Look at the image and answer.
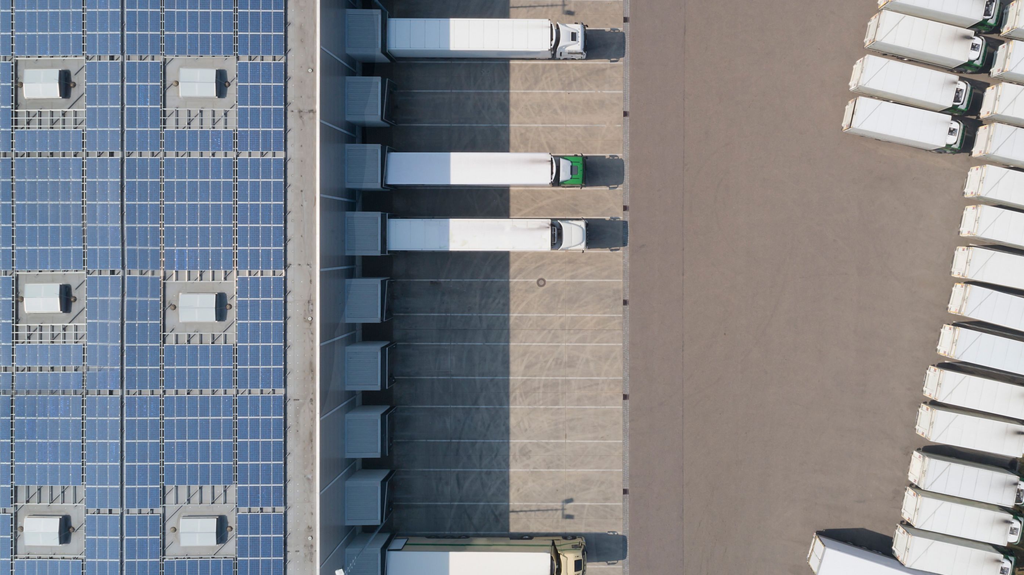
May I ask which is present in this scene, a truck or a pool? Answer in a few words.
truck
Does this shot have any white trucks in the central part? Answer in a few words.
Yes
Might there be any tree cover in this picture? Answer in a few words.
No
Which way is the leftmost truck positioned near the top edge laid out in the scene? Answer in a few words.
horizontally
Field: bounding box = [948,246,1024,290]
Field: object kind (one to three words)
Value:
truck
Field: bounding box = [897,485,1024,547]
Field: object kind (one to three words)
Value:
truck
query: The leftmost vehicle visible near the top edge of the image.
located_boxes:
[388,18,590,61]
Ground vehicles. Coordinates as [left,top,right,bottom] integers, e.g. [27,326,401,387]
[945,282,1024,328]
[960,164,1024,209]
[878,0,1003,34]
[889,523,1016,575]
[838,96,964,157]
[920,364,1024,417]
[904,449,1024,510]
[388,150,590,189]
[388,534,590,575]
[955,204,1024,248]
[388,215,590,254]
[897,485,1024,547]
[388,18,590,61]
[975,82,1024,128]
[984,40,1024,86]
[967,123,1024,169]
[862,10,989,74]
[912,402,1024,459]
[934,323,1024,373]
[995,0,1024,42]
[948,246,1024,290]
[845,54,972,118]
